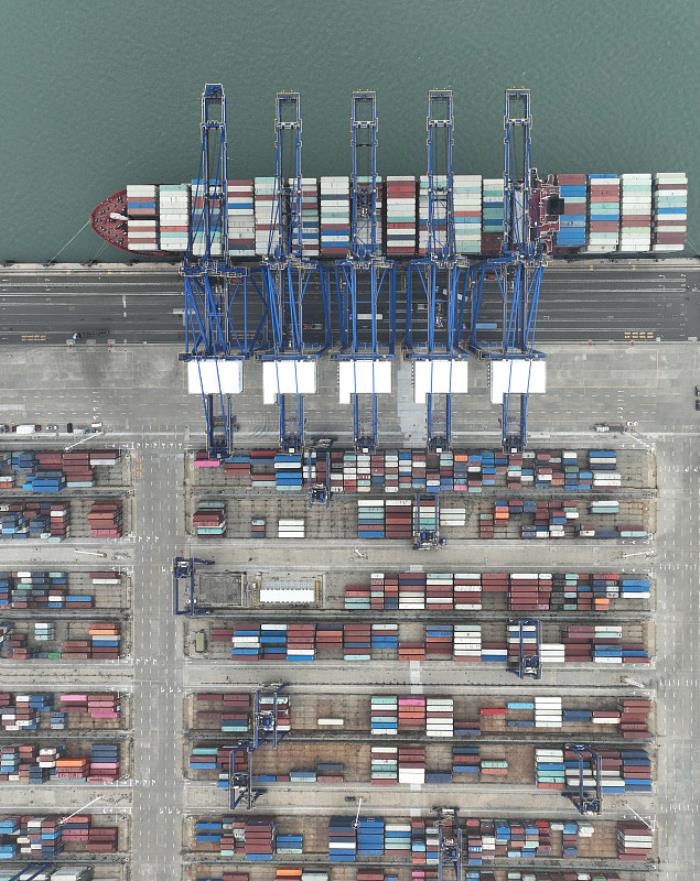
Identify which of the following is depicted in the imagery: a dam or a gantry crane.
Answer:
gantry crane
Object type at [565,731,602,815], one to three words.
container crane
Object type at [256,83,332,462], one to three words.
container crane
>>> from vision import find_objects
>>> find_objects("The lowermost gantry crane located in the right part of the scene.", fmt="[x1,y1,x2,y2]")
[432,803,463,881]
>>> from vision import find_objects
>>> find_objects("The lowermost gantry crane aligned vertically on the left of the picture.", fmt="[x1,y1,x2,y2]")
[229,729,263,810]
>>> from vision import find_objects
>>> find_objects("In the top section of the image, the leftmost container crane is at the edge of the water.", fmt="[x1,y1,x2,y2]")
[182,83,264,462]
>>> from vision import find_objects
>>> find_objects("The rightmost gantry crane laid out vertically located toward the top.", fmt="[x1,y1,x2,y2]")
[468,82,549,460]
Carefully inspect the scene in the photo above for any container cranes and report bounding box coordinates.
[256,83,332,462]
[432,803,463,881]
[398,83,472,460]
[182,83,264,462]
[409,489,441,551]
[468,82,549,460]
[255,671,287,750]
[306,441,337,509]
[565,731,602,815]
[331,83,399,457]
[229,729,263,810]
[507,607,542,680]
[172,544,209,617]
